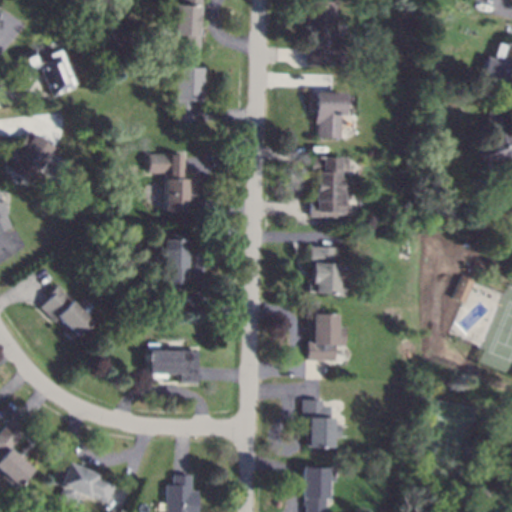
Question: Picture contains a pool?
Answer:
Yes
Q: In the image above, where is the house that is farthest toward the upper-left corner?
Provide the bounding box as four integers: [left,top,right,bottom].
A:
[36,50,78,96]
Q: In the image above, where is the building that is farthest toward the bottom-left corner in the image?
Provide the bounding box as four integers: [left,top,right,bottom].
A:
[0,428,32,492]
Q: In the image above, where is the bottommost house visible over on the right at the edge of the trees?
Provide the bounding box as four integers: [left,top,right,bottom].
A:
[304,469,334,512]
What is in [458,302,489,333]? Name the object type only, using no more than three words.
swimming pool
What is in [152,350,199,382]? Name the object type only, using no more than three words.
house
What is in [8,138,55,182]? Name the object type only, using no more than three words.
house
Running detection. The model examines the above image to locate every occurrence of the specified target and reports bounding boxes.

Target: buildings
[304,469,334,512]
[317,92,353,140]
[149,151,194,212]
[63,462,118,506]
[178,0,204,48]
[152,350,199,382]
[308,314,348,360]
[453,276,474,304]
[302,400,344,450]
[312,156,350,219]
[43,288,92,332]
[490,40,512,78]
[312,246,346,296]
[165,474,198,512]
[36,50,78,96]
[164,238,191,284]
[0,428,32,492]
[178,66,208,109]
[8,138,55,182]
